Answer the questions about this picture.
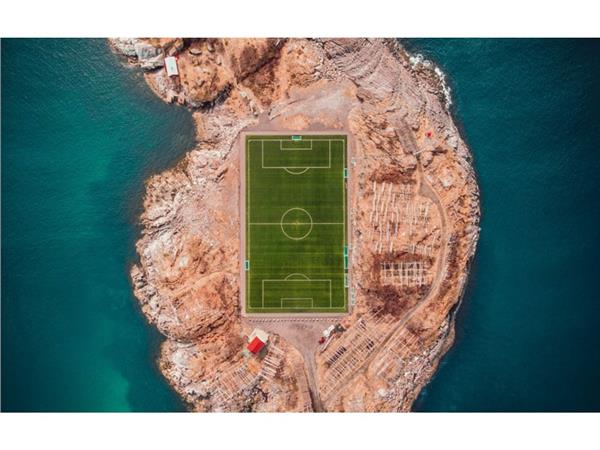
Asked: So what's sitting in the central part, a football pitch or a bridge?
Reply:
football pitch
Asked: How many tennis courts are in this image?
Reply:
0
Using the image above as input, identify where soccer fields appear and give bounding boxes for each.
[241,131,351,317]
